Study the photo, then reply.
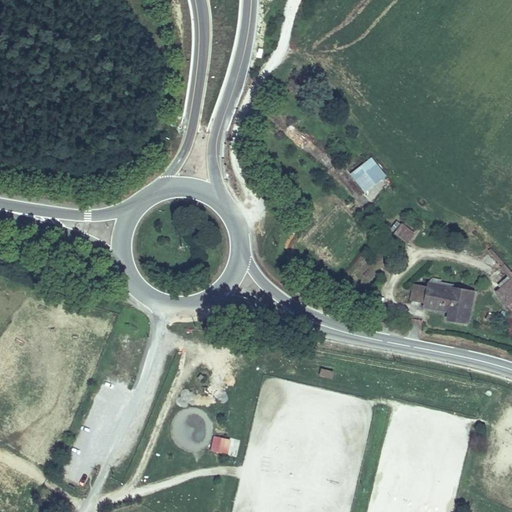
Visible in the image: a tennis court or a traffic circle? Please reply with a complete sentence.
Looking from above, you can make out a traffic circle.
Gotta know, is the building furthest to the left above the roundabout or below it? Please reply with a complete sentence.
Within the scene, the building furthest to the left can be found below the roundabout.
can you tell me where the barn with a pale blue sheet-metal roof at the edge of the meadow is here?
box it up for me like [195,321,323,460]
[351,157,388,201]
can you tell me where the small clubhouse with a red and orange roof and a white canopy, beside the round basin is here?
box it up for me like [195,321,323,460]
[210,436,240,458]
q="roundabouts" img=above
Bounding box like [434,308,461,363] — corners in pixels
[59,118,278,317]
